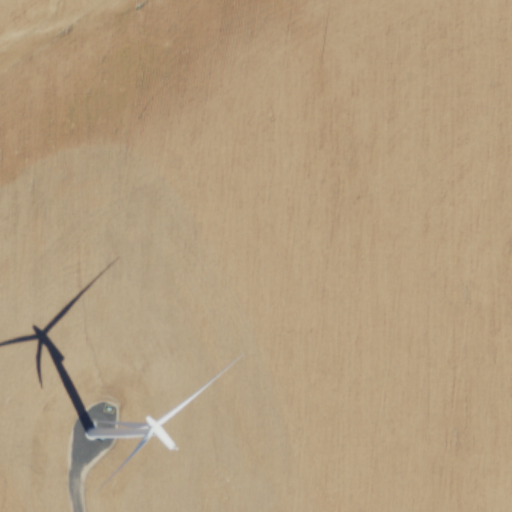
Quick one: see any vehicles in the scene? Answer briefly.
No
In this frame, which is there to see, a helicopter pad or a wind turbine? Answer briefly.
wind turbine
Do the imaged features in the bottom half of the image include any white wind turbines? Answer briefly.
Yes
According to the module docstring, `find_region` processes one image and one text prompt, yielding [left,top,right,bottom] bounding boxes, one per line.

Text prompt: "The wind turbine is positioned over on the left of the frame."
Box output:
[86,354,246,486]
